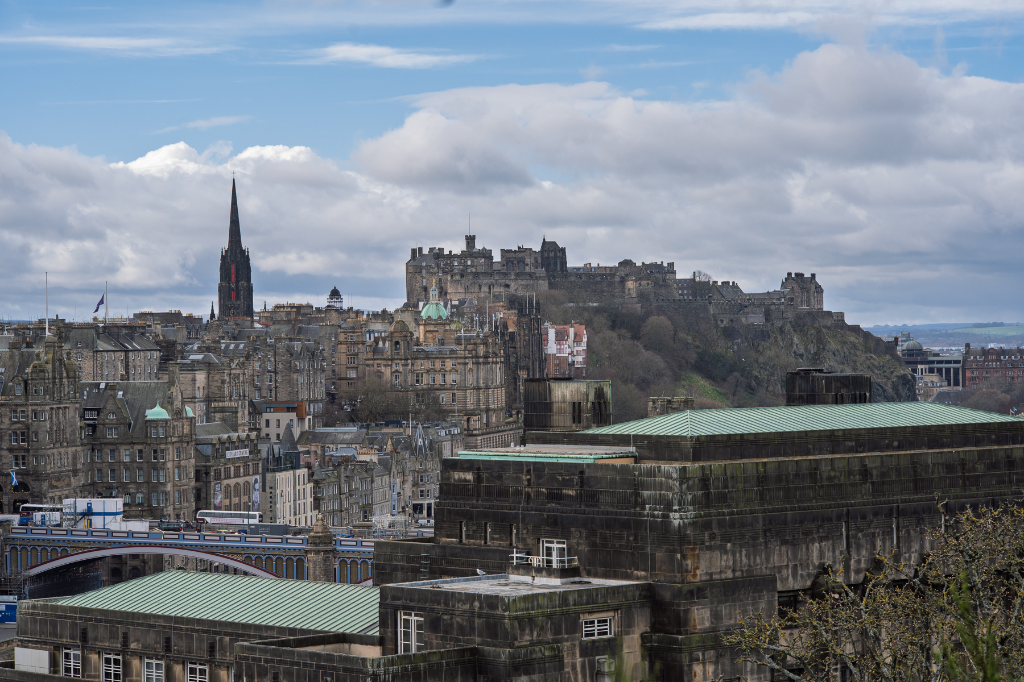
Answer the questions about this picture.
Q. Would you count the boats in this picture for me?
none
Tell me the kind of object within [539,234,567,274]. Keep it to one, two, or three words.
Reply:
building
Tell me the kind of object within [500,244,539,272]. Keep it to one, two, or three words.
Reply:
building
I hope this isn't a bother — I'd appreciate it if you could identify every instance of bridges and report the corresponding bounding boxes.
[0,515,435,624]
